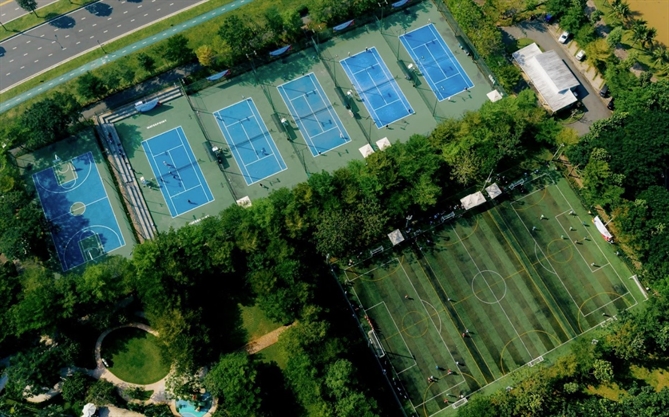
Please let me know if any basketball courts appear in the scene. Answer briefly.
Yes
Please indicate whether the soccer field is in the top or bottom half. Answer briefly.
bottom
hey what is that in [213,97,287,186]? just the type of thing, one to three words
tennis court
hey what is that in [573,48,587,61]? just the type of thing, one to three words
vehicle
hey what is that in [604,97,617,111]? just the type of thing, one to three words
vehicle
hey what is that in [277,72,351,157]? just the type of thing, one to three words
tennis court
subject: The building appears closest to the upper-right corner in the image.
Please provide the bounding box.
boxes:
[508,42,579,115]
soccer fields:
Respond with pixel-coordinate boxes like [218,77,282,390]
[326,154,651,417]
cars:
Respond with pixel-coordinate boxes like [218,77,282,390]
[573,48,587,61]
[597,84,610,97]
[604,97,617,111]
[571,87,582,101]
[557,31,568,44]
